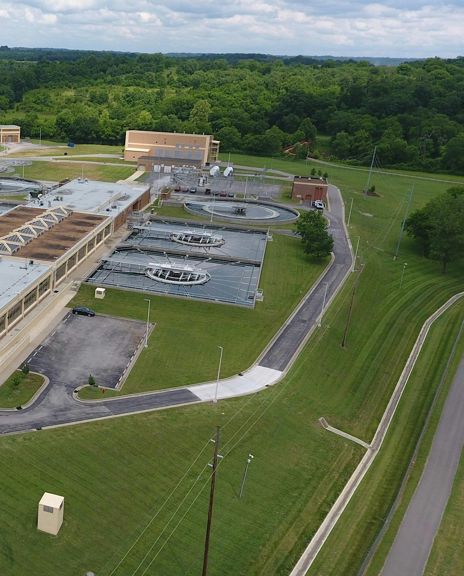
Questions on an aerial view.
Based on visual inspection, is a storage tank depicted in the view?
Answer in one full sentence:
Yes, I can see a storage tank in this picture.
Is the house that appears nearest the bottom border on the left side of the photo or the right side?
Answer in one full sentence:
It is on the left.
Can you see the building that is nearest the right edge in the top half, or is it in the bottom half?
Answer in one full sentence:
It is in the top half that the building that is nearest the right edge appears.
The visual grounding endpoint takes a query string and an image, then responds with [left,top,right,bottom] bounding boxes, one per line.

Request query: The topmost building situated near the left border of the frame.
[0,125,21,143]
